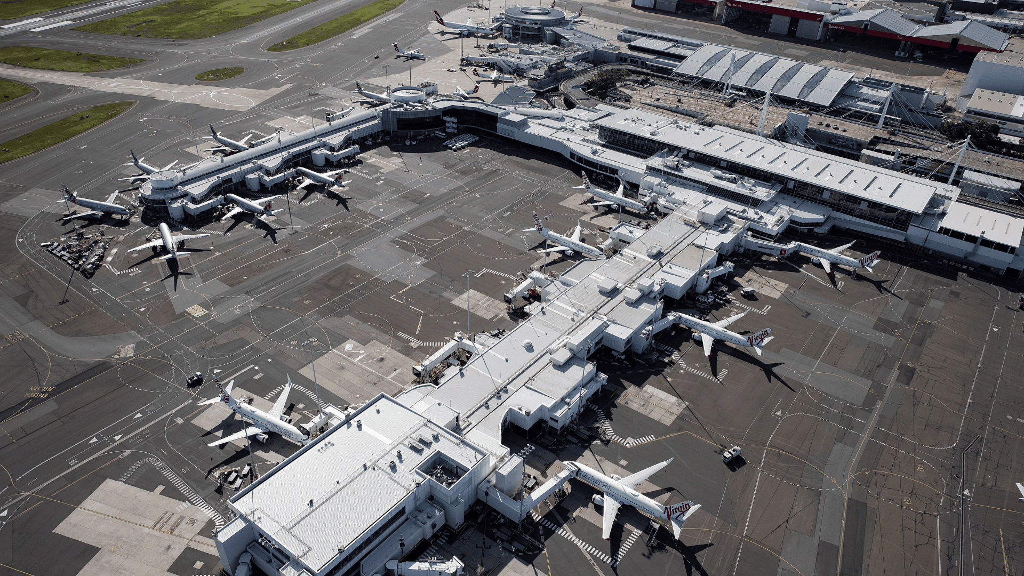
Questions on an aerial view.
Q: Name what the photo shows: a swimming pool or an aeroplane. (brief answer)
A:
aeroplane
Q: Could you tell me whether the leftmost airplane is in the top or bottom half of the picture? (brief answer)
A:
top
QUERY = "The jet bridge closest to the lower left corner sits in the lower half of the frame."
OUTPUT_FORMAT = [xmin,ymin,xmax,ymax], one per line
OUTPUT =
[233,543,256,576]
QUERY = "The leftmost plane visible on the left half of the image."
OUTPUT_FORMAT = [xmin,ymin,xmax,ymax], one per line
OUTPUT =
[54,184,131,219]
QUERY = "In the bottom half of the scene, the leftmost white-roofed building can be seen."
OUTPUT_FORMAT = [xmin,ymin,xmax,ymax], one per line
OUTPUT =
[215,393,491,576]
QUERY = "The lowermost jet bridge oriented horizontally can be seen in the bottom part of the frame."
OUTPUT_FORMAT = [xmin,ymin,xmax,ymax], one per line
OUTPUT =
[382,548,468,576]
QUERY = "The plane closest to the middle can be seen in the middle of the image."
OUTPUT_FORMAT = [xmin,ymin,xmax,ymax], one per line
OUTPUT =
[524,212,605,260]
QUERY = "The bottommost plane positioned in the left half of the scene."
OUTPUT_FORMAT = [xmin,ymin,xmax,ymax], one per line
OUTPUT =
[199,373,313,447]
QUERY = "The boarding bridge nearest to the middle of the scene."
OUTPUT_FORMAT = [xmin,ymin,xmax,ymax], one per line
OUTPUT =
[501,271,556,304]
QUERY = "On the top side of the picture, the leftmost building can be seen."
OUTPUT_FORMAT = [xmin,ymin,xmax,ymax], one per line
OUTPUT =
[137,107,383,221]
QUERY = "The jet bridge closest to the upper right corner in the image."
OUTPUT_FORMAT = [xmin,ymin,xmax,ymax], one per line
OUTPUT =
[743,234,803,262]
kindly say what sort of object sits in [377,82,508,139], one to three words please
building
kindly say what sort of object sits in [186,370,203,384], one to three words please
vehicle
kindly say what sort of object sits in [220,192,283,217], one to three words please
airplane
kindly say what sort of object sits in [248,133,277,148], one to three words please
jet bridge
